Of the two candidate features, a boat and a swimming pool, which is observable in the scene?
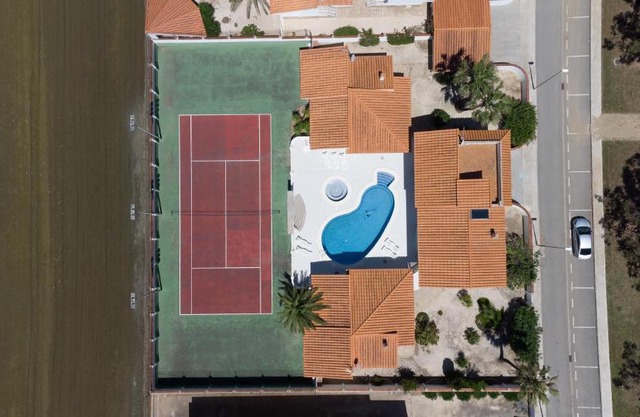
swimming pool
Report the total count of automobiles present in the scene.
1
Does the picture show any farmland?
Yes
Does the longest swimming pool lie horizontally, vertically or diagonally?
diagonally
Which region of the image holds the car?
right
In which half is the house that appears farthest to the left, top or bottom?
top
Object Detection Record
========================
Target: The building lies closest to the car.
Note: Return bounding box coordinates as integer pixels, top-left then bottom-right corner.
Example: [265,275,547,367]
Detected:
[409,129,512,288]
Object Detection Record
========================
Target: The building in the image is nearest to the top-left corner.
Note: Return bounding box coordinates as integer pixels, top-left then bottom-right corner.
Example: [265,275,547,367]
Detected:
[147,0,208,42]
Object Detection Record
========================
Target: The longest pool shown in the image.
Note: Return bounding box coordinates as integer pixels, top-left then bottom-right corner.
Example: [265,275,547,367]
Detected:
[318,168,399,268]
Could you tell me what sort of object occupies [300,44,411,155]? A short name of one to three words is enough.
house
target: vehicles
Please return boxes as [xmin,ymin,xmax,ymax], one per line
[571,218,594,258]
